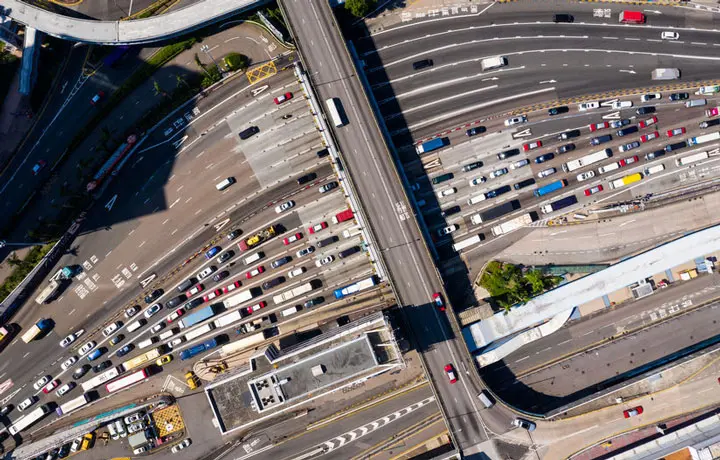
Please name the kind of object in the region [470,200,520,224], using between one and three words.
truck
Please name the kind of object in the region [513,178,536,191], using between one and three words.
vehicle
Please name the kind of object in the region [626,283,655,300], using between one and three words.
building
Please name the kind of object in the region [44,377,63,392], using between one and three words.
car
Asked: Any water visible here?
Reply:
No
